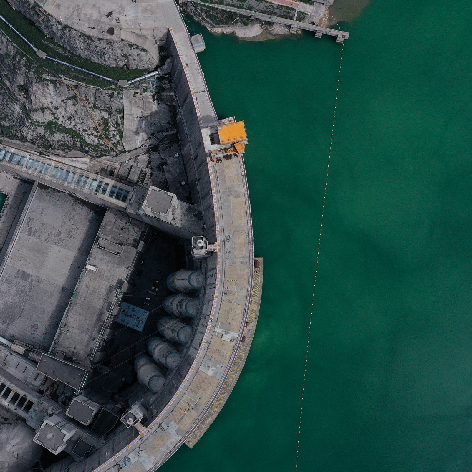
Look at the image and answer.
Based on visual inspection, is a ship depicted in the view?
No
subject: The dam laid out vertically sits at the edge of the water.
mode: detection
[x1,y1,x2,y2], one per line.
[29,0,264,472]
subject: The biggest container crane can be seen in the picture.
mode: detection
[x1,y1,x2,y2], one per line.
[201,119,249,164]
